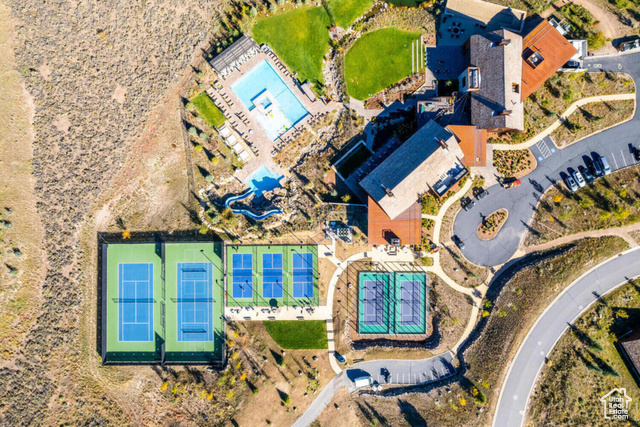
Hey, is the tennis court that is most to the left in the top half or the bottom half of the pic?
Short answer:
bottom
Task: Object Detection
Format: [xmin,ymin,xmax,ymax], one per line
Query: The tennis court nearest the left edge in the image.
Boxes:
[107,244,163,361]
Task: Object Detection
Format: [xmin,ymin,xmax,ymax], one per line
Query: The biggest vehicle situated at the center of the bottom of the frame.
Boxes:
[354,374,373,387]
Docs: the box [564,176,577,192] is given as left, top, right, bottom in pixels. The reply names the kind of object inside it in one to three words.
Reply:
vehicle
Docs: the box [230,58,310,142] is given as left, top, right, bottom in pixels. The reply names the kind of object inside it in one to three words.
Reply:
swimming pool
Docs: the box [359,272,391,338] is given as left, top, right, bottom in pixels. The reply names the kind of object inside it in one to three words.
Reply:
tennis court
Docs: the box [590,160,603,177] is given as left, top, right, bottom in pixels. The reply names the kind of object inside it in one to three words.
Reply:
vehicle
